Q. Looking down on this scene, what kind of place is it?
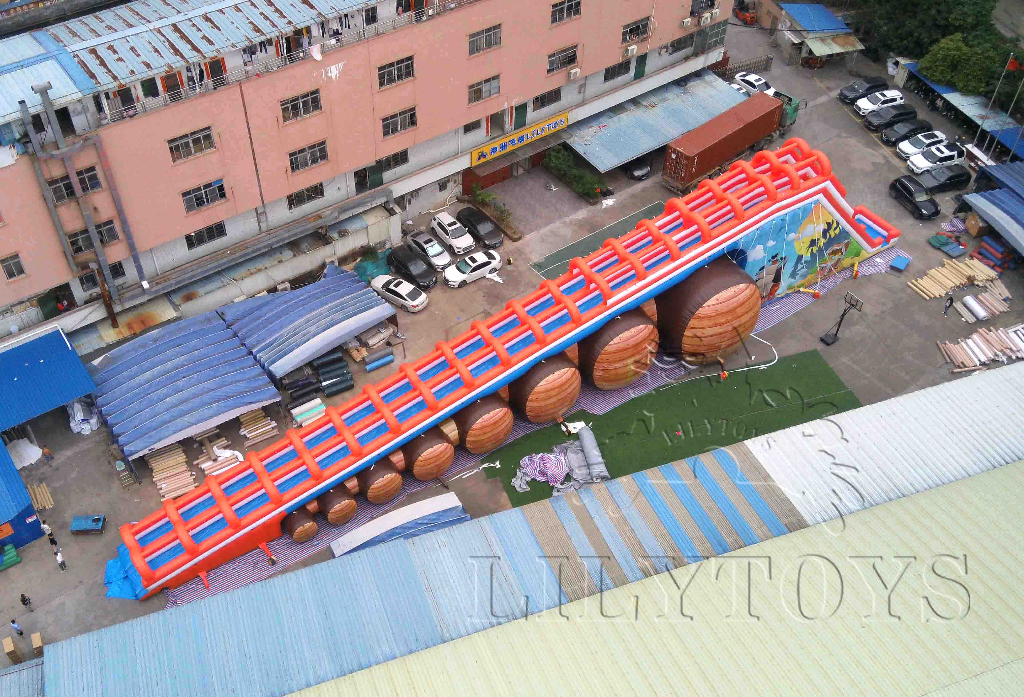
industrial area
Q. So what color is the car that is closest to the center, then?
white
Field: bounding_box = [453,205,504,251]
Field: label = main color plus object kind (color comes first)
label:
black car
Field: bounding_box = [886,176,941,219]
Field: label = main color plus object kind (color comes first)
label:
black car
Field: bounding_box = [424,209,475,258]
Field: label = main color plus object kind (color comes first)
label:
white car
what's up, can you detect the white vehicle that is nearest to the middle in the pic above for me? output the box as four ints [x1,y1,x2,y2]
[441,249,506,288]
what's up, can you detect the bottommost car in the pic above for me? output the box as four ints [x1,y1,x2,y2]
[368,277,433,319]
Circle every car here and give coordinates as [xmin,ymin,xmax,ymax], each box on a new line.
[886,176,941,219]
[368,277,433,319]
[897,128,951,163]
[866,99,919,132]
[453,205,504,251]
[736,69,781,96]
[618,155,650,181]
[400,227,451,273]
[382,241,437,292]
[441,249,506,288]
[914,161,972,194]
[881,117,935,147]
[424,209,475,258]
[840,72,890,105]
[856,85,909,117]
